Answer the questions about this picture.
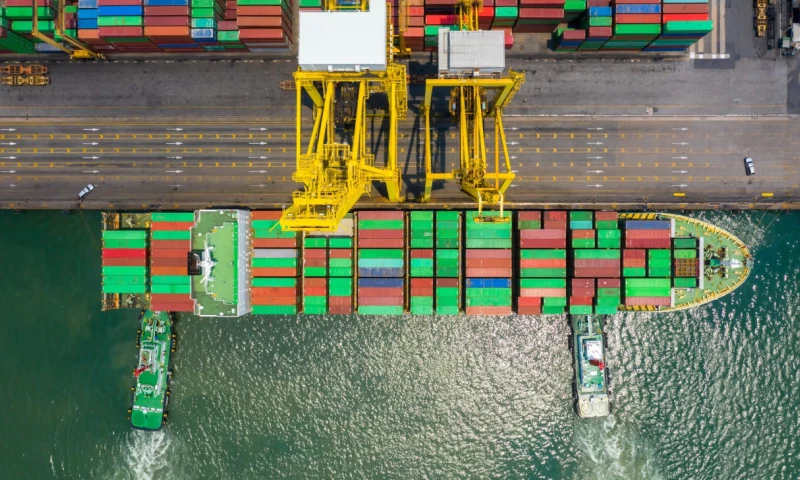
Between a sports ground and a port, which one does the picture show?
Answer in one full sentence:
The area seen from above is a port.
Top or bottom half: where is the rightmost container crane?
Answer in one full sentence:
The rightmost container crane is in the top half of the image.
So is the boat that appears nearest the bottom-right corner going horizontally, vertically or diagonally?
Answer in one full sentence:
In this picture, the boat that appears nearest the bottom-right corner lies vertically.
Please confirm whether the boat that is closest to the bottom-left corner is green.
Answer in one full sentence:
Yes, the boat that is closest to the bottom-left corner is green.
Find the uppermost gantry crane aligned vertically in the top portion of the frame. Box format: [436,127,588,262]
[386,0,413,57]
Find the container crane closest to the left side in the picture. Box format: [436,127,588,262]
[27,0,105,57]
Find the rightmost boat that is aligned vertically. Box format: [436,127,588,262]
[567,313,612,418]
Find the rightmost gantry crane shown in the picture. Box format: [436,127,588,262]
[412,0,534,222]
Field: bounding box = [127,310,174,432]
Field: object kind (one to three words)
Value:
boat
